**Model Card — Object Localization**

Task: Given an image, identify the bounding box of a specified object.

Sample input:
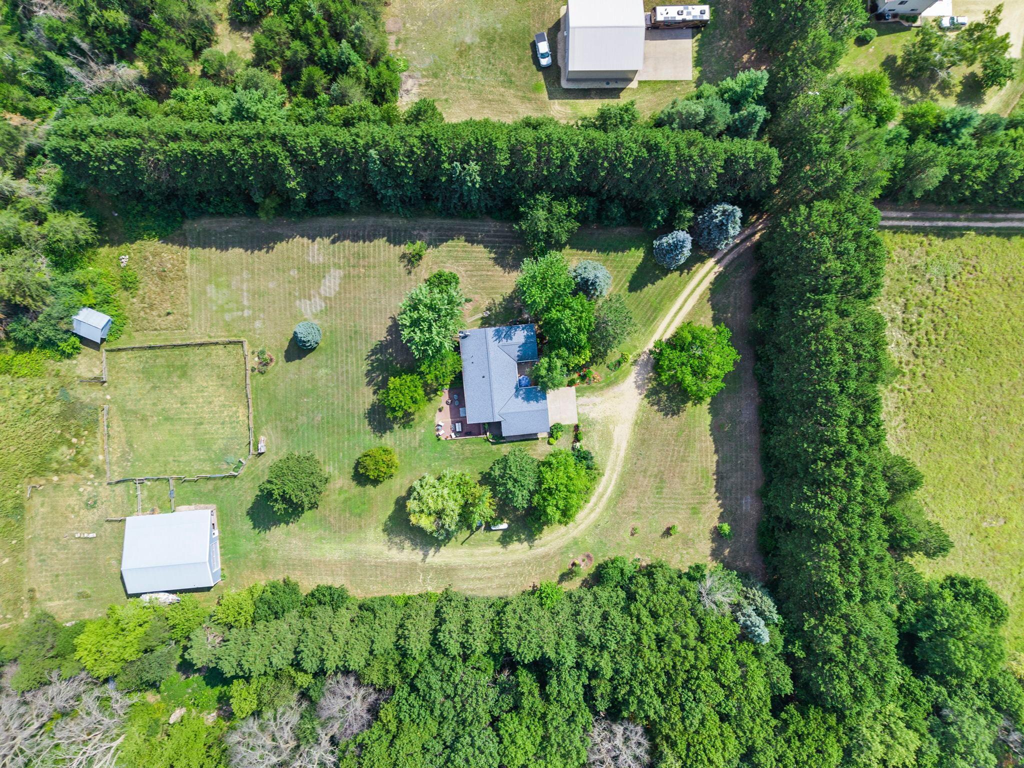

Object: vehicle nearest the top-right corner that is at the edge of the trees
[940,12,971,29]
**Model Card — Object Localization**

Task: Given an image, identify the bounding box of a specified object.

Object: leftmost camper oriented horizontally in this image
[647,6,709,30]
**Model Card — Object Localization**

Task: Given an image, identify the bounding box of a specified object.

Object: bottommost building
[120,509,222,595]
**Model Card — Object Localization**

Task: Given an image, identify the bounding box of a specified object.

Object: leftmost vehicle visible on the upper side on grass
[534,31,552,68]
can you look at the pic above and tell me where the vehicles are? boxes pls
[534,31,552,68]
[647,6,709,30]
[940,12,971,29]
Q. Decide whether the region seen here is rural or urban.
rural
